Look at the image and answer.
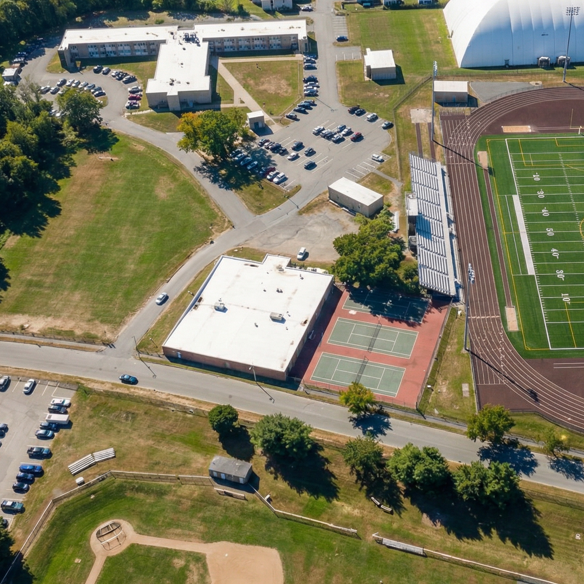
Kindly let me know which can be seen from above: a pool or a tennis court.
tennis court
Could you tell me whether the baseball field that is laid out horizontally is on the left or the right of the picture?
left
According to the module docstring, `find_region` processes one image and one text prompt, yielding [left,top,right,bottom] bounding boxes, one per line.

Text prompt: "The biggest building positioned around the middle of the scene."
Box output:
[162,254,334,380]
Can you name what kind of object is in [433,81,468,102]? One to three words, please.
shed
